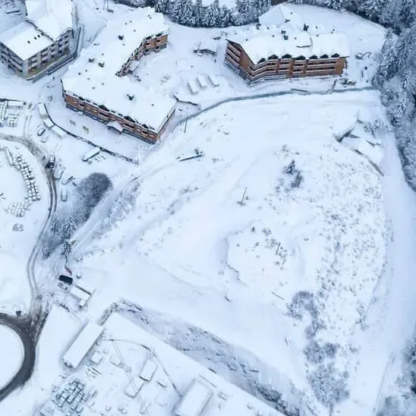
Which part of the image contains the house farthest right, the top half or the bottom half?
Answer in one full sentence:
Seen from above, the house farthest right lies in the top half of the view.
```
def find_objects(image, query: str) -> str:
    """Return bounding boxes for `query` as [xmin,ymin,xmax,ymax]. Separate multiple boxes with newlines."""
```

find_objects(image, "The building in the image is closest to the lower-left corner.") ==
[62,320,106,371]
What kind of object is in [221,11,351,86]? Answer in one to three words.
house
